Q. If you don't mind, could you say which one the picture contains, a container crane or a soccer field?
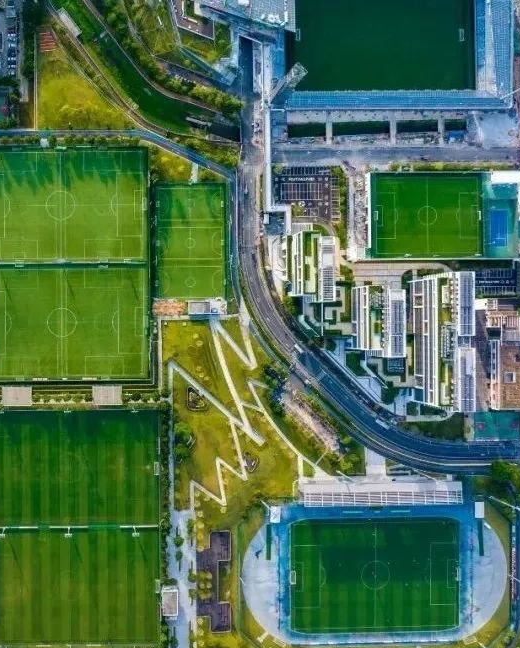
soccer field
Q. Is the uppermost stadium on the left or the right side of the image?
right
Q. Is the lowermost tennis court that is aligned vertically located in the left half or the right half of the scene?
right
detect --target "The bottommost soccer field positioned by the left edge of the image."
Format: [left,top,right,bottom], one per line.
[0,528,165,648]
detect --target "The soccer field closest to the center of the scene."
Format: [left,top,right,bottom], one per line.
[152,182,229,302]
